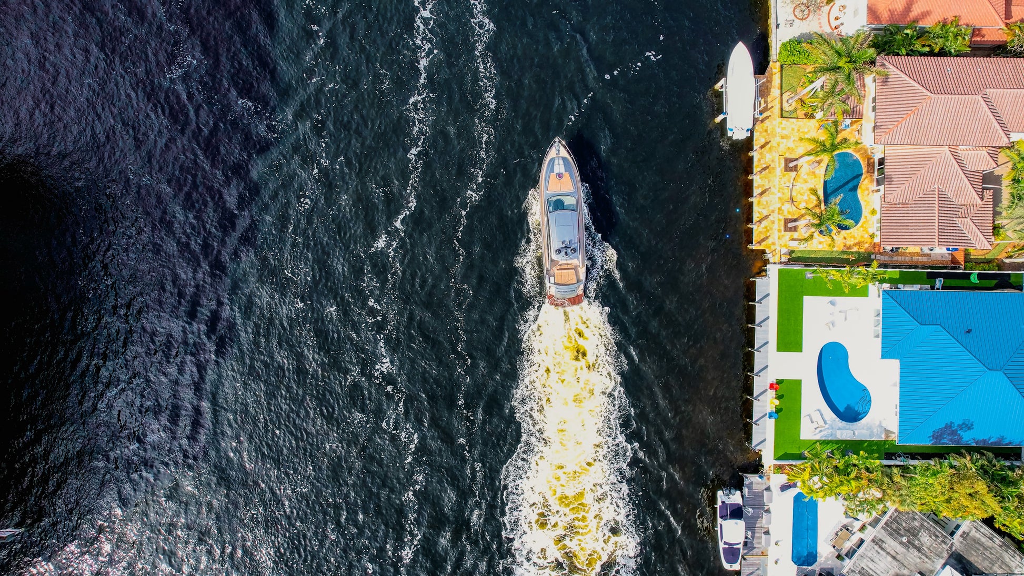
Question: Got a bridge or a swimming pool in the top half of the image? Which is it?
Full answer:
The feature located in the top half of the image is a swimming pool.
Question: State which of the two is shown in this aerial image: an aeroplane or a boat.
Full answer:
Looking from above, you can make out a boat.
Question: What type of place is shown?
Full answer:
It's a residential area.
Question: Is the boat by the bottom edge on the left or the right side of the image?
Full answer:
The boat by the bottom edge is on the right side of the image.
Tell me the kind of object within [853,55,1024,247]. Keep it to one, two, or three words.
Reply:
house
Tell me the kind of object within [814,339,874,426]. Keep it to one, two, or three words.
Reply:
swimming pool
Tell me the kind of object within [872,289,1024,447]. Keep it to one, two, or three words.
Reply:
house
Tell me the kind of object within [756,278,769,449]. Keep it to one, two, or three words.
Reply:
pier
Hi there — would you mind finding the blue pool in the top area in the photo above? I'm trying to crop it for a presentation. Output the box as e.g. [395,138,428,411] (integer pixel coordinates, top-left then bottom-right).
[817,149,865,238]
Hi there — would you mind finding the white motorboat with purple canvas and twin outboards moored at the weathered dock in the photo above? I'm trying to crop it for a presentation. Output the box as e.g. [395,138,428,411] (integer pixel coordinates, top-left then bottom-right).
[714,485,745,571]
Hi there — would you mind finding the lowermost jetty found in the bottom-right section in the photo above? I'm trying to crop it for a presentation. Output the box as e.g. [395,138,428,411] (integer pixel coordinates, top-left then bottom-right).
[741,476,770,576]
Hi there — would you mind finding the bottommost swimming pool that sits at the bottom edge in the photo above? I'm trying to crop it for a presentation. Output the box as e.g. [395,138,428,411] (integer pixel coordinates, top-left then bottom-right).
[789,489,821,570]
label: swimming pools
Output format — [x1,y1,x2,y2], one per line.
[789,489,821,570]
[817,149,865,238]
[814,339,874,426]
